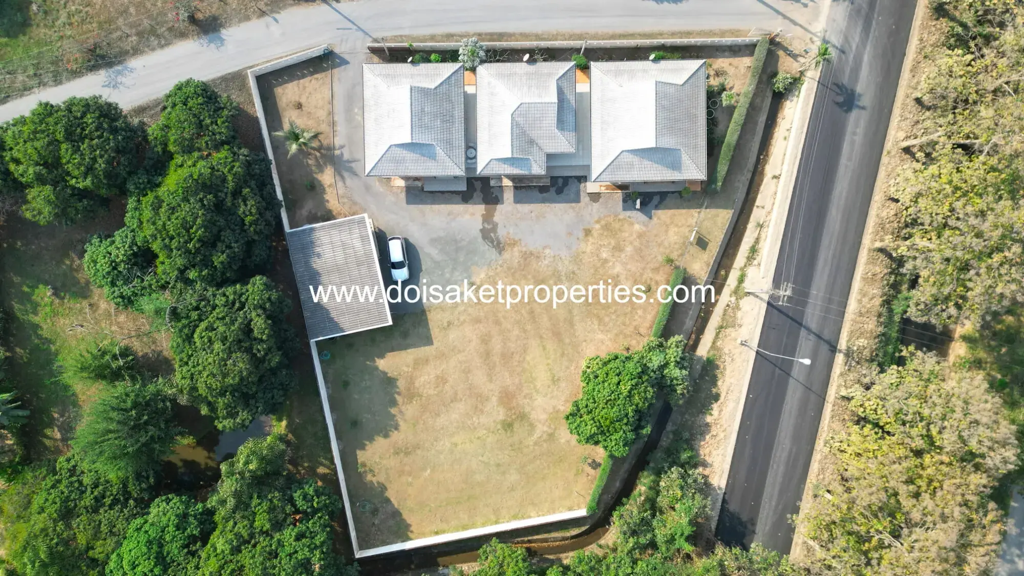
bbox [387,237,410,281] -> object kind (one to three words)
car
